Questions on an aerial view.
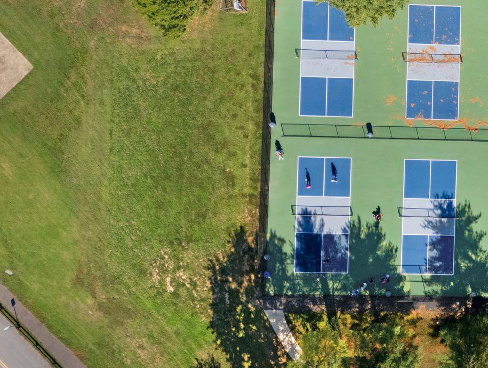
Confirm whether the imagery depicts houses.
No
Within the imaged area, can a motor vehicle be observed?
No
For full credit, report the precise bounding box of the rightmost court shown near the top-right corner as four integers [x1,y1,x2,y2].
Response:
[406,5,461,120]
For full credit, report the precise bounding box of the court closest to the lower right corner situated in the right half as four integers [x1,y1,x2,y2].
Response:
[401,159,457,275]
